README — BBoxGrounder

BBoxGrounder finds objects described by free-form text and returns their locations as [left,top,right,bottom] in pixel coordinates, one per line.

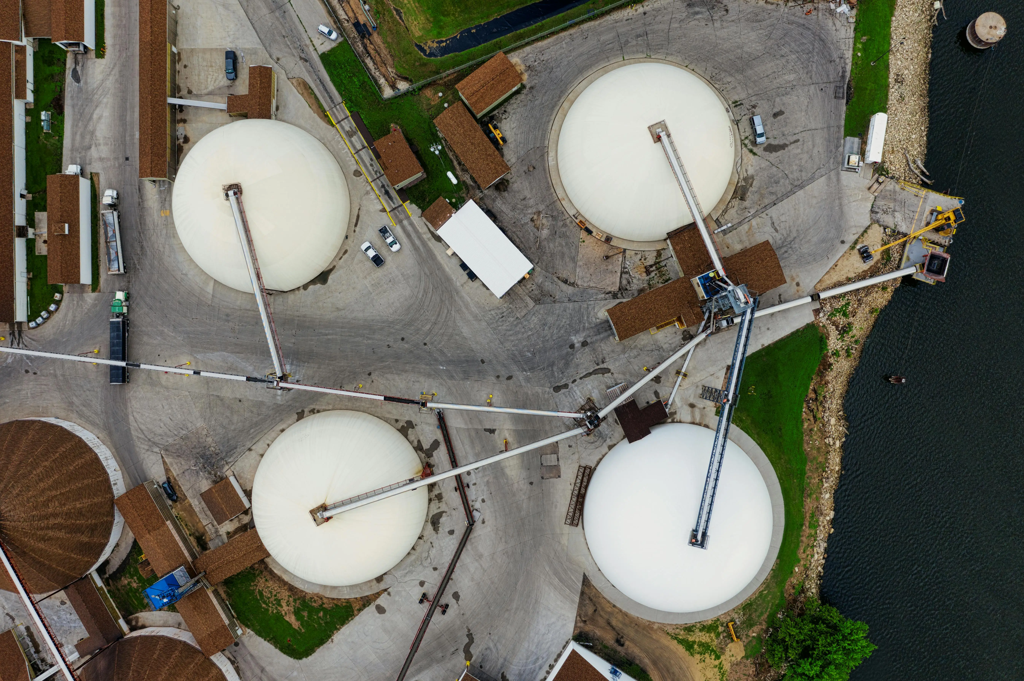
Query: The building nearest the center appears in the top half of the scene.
[437,199,534,299]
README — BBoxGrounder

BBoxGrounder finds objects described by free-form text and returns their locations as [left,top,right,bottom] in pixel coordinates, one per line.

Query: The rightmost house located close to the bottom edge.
[546,641,616,681]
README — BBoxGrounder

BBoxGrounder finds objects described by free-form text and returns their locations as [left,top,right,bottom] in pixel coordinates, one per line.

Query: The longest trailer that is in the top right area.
[864,111,887,165]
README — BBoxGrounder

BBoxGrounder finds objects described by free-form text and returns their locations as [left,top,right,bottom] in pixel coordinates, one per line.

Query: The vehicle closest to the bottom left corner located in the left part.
[159,481,176,503]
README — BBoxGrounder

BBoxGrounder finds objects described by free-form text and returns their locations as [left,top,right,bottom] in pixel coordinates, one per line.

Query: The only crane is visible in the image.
[856,205,969,266]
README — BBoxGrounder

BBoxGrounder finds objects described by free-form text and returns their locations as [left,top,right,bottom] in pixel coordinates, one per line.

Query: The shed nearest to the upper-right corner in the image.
[722,240,787,297]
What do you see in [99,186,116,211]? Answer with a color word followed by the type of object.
white vehicle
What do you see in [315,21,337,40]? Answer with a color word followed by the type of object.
white car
